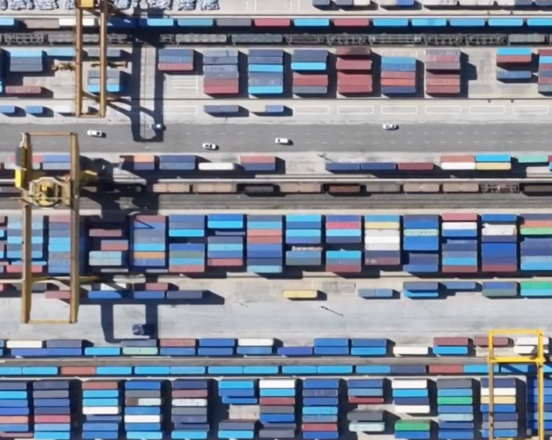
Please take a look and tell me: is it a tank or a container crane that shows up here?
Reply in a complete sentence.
Of the two, only a container crane appears.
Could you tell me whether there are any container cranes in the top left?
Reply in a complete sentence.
Yes, I can see a container crane in the top left.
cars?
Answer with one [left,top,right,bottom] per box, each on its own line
[202,143,215,149]
[384,124,397,130]
[275,138,288,143]
[88,131,101,136]
[149,124,163,130]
